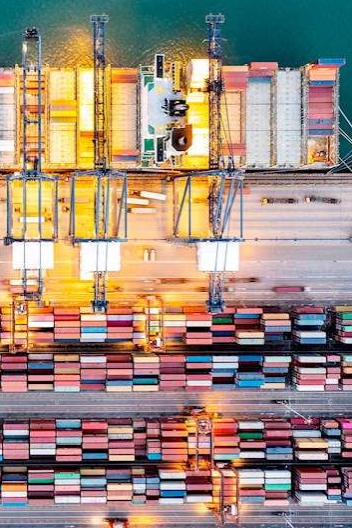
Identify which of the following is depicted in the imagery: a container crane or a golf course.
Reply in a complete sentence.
I can see a container crane in this picture.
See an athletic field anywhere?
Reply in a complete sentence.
No, there isn't any athletic field down there.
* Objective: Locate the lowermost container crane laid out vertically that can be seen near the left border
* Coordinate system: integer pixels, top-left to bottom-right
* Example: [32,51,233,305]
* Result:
[6,295,35,358]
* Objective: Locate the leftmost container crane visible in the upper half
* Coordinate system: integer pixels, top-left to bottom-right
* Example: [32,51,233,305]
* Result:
[1,27,65,310]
